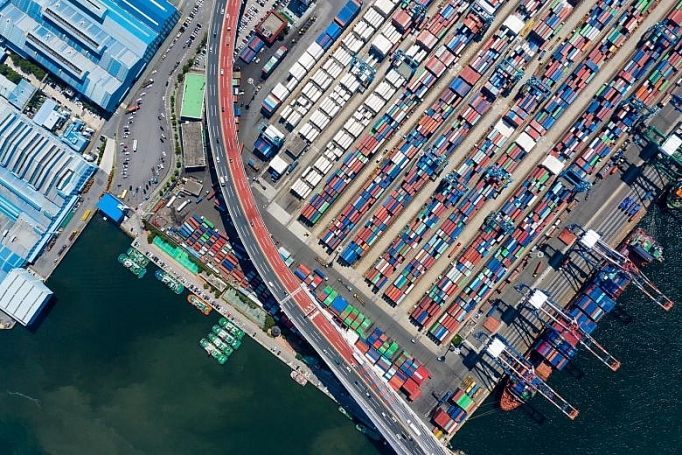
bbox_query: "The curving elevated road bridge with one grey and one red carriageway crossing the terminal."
[202,0,455,455]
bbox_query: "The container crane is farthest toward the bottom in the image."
[476,328,577,419]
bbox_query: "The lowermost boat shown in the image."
[355,422,379,442]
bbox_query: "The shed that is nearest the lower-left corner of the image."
[0,266,64,325]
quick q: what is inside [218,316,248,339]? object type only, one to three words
boat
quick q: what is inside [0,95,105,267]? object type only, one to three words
building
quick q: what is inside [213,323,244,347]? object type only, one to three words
boat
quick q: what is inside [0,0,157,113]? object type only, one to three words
warehouse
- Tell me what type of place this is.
port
